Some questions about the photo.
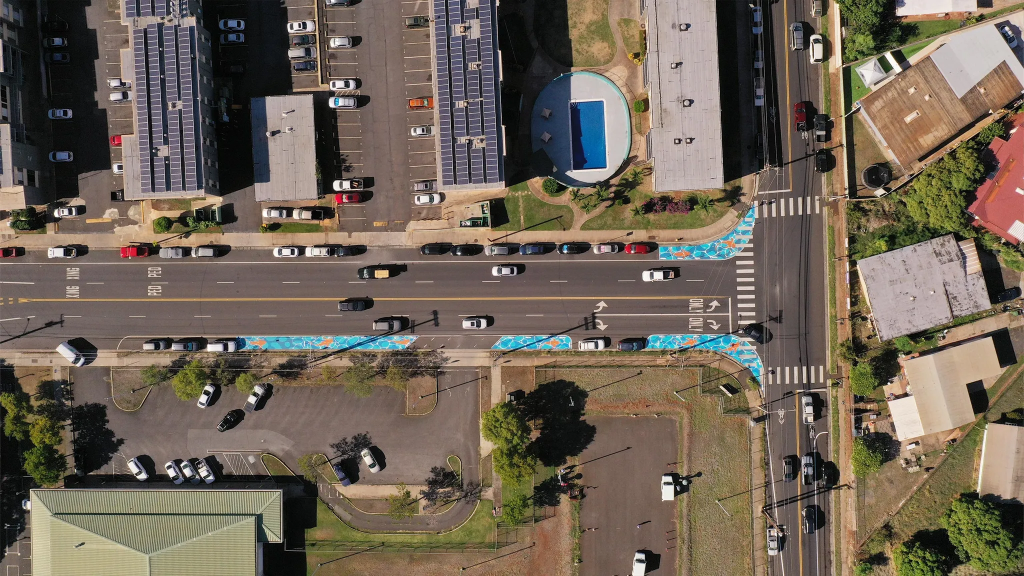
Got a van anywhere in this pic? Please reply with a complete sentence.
Yes, the picture does show a van.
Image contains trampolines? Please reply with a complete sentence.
Yes, a trampoline appears in the view.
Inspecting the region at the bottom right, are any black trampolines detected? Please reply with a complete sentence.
No, no black trampoline can be made out at the bottom right.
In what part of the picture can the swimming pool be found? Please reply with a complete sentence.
Look in the top portion of the view to spot the swimming pool.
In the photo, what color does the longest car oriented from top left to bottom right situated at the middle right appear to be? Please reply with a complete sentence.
The longest car oriented from top left to bottom right situated at the middle right looks black in the image.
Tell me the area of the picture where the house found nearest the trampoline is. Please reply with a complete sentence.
The house found nearest the trampoline appears toward the top right of the photo.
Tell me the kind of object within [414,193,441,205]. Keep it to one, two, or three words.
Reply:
vehicle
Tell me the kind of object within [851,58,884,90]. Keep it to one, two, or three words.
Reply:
gazebo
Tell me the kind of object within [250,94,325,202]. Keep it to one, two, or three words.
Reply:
building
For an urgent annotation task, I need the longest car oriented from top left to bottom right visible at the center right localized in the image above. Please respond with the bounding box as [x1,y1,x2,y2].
[740,323,765,343]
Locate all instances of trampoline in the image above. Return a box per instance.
[860,163,894,190]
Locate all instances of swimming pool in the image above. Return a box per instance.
[531,70,632,188]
